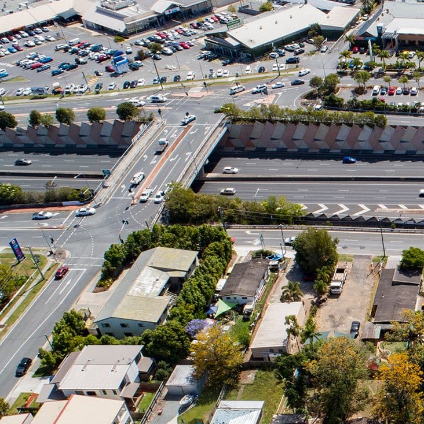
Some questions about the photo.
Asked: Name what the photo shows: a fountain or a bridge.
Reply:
bridge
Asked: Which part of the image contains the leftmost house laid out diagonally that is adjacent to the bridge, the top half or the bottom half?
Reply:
bottom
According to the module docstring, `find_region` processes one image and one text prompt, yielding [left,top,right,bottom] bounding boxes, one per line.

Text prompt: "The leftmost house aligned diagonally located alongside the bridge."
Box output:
[89,248,201,341]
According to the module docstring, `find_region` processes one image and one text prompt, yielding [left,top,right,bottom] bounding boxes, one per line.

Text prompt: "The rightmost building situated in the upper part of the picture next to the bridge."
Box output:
[206,5,361,64]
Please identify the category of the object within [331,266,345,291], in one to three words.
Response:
vehicle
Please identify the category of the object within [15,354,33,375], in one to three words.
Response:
car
